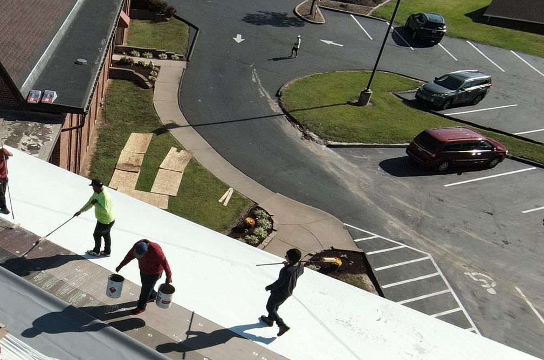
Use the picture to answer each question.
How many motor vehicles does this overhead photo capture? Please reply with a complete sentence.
In total, there are 3 motor vehicles in the scene.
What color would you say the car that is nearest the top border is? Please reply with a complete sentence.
The color of the car that is nearest the top border is black.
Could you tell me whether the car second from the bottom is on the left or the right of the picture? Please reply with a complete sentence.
It is on the right.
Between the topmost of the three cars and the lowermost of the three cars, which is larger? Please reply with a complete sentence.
Compared with the topmost of the three cars, the lowermost of the three cars is the bigger one.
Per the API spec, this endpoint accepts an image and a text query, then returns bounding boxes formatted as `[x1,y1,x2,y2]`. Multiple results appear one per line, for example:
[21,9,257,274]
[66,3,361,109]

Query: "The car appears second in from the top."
[416,69,494,109]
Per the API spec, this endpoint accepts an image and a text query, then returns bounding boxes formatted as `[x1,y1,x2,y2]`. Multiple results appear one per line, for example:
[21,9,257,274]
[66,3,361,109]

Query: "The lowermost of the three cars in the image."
[405,122,517,172]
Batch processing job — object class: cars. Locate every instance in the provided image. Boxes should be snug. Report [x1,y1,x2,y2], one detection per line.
[416,69,494,109]
[407,15,446,40]
[405,122,517,172]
